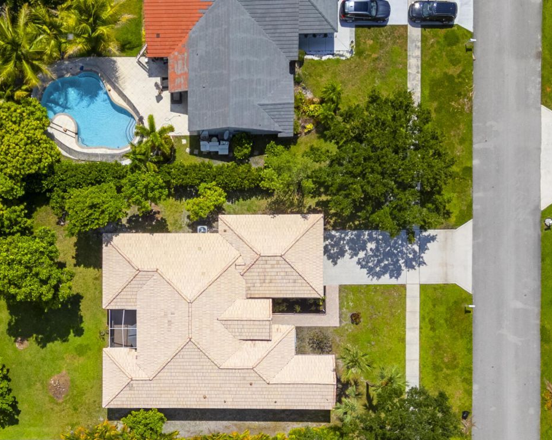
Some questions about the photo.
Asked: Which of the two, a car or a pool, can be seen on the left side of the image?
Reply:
pool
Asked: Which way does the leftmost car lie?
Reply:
from left to right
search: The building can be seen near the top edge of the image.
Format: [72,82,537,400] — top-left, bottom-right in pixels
[144,0,338,137]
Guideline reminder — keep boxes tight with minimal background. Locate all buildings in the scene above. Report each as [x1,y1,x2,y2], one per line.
[103,214,337,408]
[144,0,338,137]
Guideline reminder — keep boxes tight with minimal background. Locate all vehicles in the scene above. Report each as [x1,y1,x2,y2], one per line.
[408,0,458,25]
[340,1,391,24]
